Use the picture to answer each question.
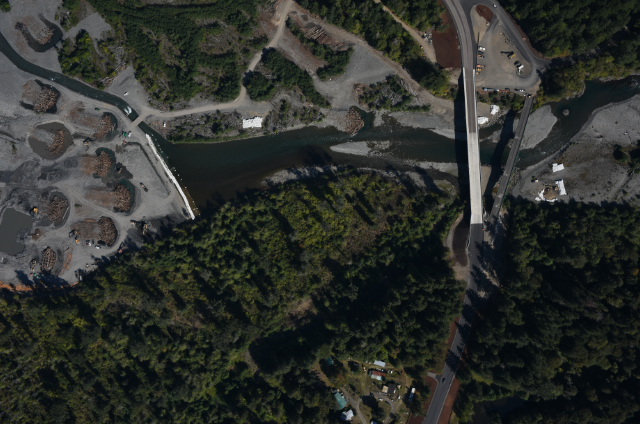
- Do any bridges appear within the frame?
Yes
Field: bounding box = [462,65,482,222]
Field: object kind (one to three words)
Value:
bridge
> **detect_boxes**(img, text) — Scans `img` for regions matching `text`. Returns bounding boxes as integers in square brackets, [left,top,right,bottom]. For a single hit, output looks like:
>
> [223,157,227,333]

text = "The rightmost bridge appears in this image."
[494,91,535,208]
